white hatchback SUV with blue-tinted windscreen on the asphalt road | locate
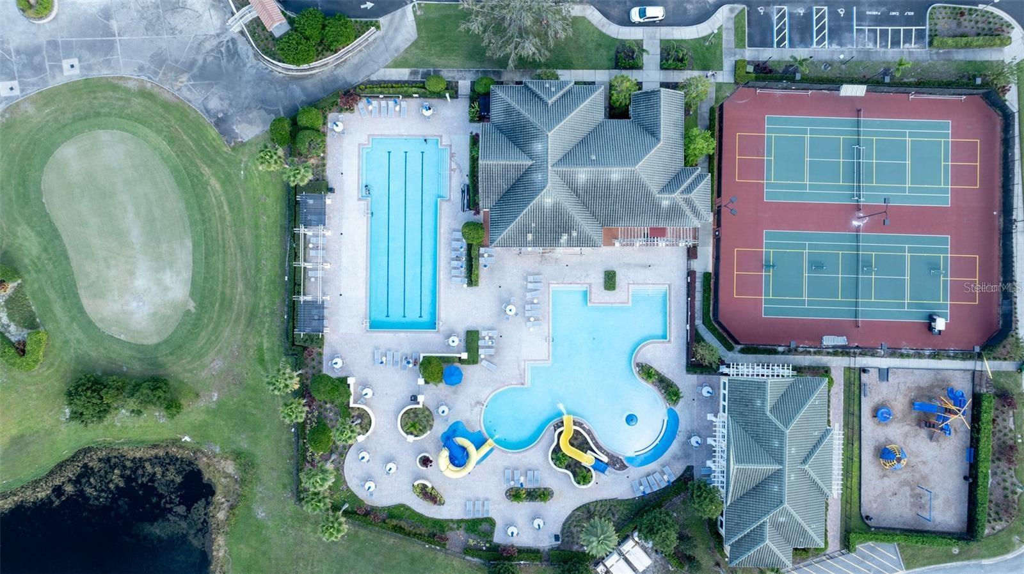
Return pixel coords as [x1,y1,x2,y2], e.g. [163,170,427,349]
[630,4,666,23]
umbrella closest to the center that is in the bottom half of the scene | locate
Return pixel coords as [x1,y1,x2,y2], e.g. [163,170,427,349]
[442,365,463,386]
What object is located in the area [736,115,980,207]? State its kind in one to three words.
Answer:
tennis court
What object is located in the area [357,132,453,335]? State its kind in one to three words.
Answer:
swimming pool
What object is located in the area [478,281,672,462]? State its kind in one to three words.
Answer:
swimming pool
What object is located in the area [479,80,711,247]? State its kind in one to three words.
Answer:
building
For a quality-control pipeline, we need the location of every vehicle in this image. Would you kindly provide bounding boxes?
[925,314,947,336]
[630,4,666,23]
